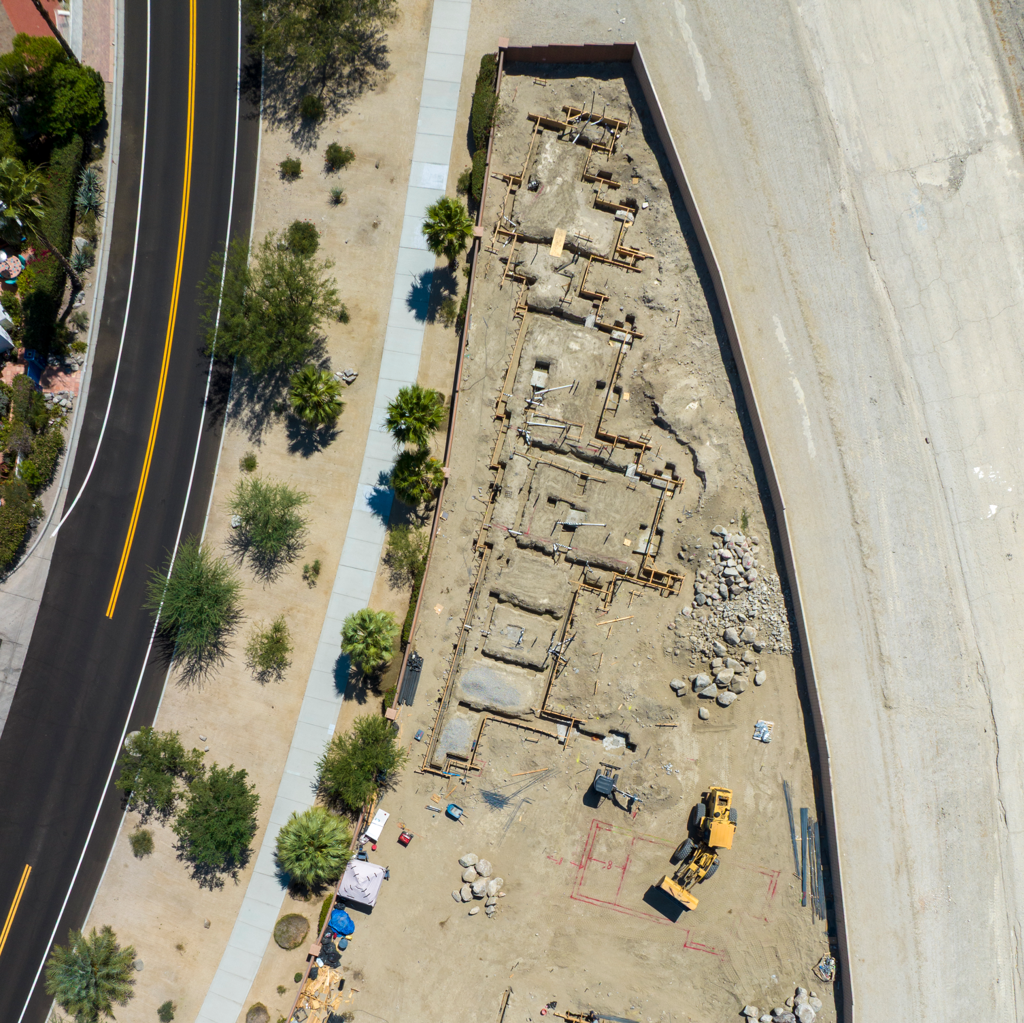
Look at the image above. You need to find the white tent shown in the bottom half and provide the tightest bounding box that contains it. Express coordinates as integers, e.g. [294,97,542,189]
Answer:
[337,853,389,906]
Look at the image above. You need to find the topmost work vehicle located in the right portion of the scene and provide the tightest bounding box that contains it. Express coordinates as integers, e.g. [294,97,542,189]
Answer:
[591,761,642,802]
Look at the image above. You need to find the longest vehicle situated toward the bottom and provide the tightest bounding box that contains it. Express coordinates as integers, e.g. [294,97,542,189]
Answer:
[655,784,738,913]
